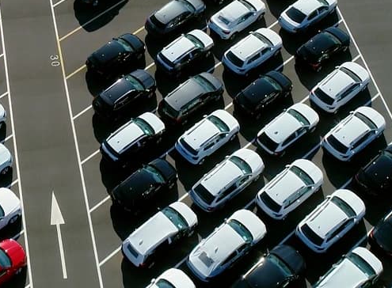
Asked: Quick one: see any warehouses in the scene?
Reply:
No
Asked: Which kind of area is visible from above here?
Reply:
parking lot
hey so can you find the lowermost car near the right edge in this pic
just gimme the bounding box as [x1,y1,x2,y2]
[311,243,386,288]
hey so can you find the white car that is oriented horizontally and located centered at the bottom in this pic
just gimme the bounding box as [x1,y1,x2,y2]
[145,266,197,288]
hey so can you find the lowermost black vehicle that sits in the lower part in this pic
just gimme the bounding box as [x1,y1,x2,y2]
[230,241,309,288]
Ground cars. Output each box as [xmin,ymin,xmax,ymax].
[219,27,283,78]
[293,188,366,255]
[121,200,197,270]
[0,234,30,286]
[171,108,241,166]
[206,0,266,39]
[81,32,148,81]
[251,158,326,223]
[306,61,371,115]
[349,142,392,202]
[89,69,158,123]
[145,266,197,288]
[0,189,19,227]
[229,68,294,123]
[186,209,265,281]
[275,0,338,36]
[155,70,223,126]
[251,102,321,160]
[230,241,309,288]
[97,110,168,168]
[367,210,392,259]
[189,150,261,213]
[144,0,204,39]
[291,25,353,74]
[311,243,386,288]
[106,154,180,218]
[151,28,217,79]
[318,106,386,165]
